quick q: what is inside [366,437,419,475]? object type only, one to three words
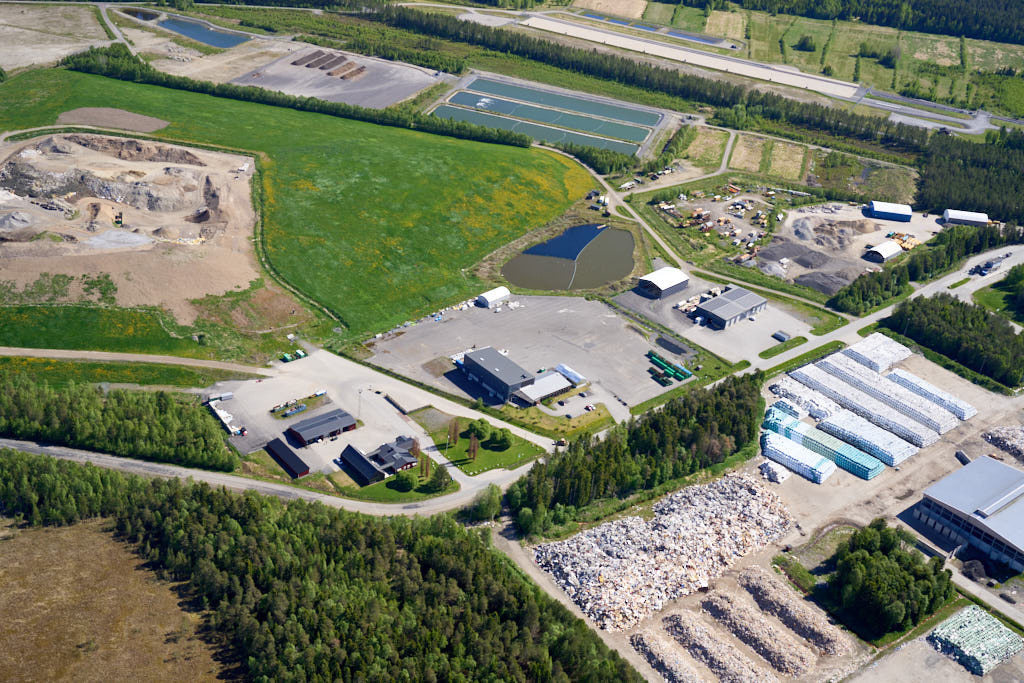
house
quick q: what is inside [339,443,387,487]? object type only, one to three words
barn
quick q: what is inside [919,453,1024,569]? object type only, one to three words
building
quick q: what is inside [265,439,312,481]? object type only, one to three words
shed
